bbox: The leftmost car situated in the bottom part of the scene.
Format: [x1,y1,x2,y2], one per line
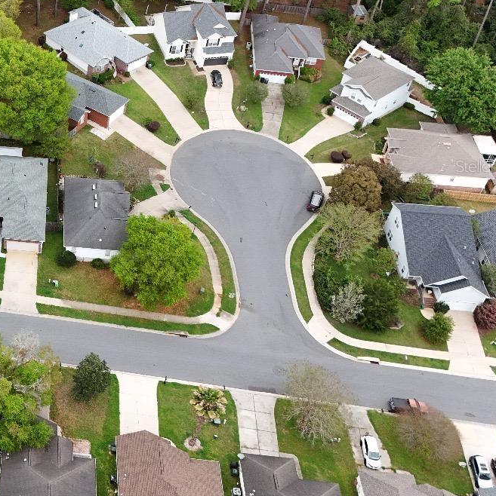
[361,432,384,468]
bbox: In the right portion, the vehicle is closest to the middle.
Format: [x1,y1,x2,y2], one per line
[309,190,325,210]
